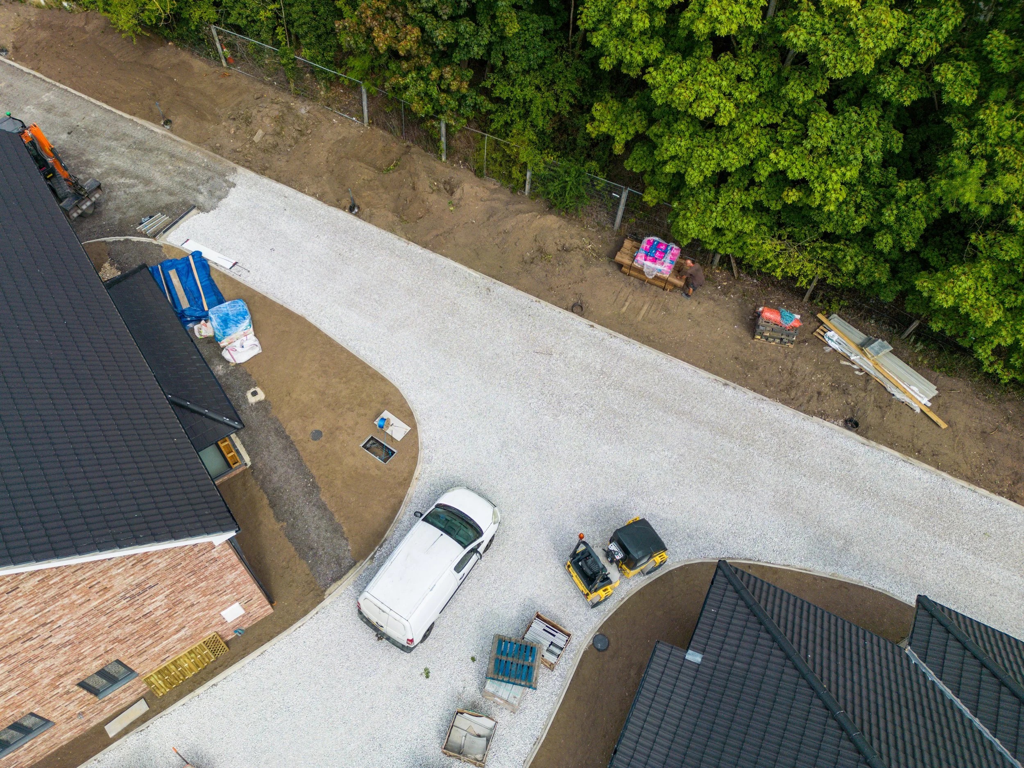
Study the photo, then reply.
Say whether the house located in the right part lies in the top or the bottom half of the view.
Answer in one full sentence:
Seen from above, the house located in the right part lies in the bottom half of the view.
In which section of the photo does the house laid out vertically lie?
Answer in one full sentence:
You can find the house laid out vertically in the left area of the picture.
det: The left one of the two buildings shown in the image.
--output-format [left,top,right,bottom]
[0,136,273,768]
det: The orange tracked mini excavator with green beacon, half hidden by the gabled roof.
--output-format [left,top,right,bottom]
[0,108,108,220]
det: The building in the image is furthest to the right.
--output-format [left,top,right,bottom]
[601,554,1024,768]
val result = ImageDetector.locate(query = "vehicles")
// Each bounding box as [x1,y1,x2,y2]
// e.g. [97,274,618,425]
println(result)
[0,108,108,220]
[354,487,499,653]
[565,519,673,601]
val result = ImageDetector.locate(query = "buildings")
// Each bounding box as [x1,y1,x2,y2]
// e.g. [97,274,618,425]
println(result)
[601,554,1024,768]
[0,136,273,768]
